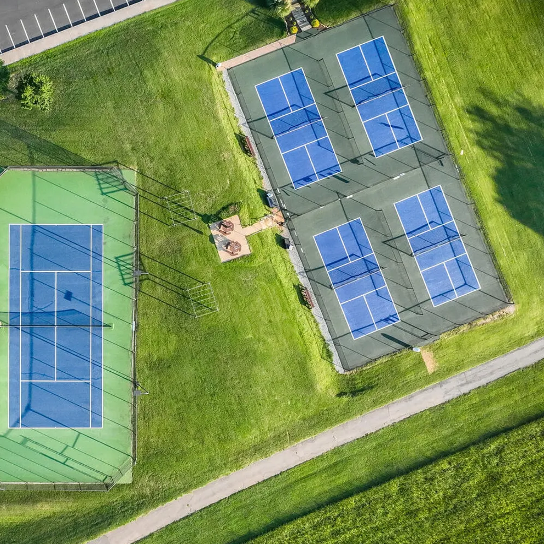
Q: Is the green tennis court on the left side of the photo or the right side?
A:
left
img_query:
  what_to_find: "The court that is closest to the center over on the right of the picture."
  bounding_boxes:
[313,217,402,340]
